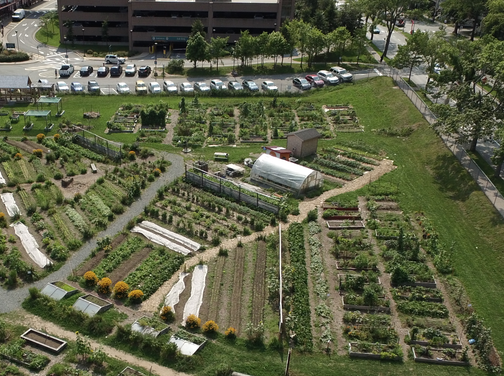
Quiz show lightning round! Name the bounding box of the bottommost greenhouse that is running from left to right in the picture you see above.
[249,156,327,200]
